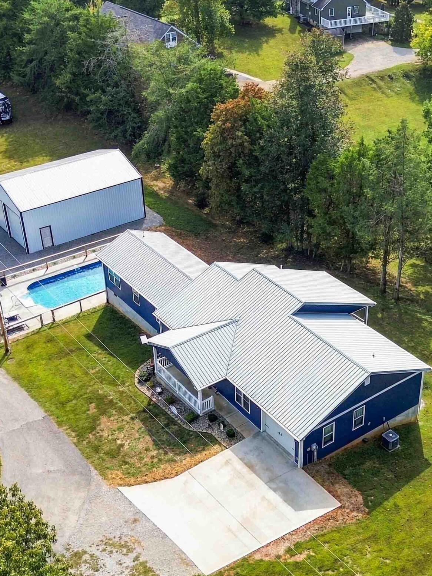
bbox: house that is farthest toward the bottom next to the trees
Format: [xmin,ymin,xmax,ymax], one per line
[97,229,432,470]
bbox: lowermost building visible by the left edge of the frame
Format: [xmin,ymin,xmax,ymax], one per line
[0,148,145,254]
